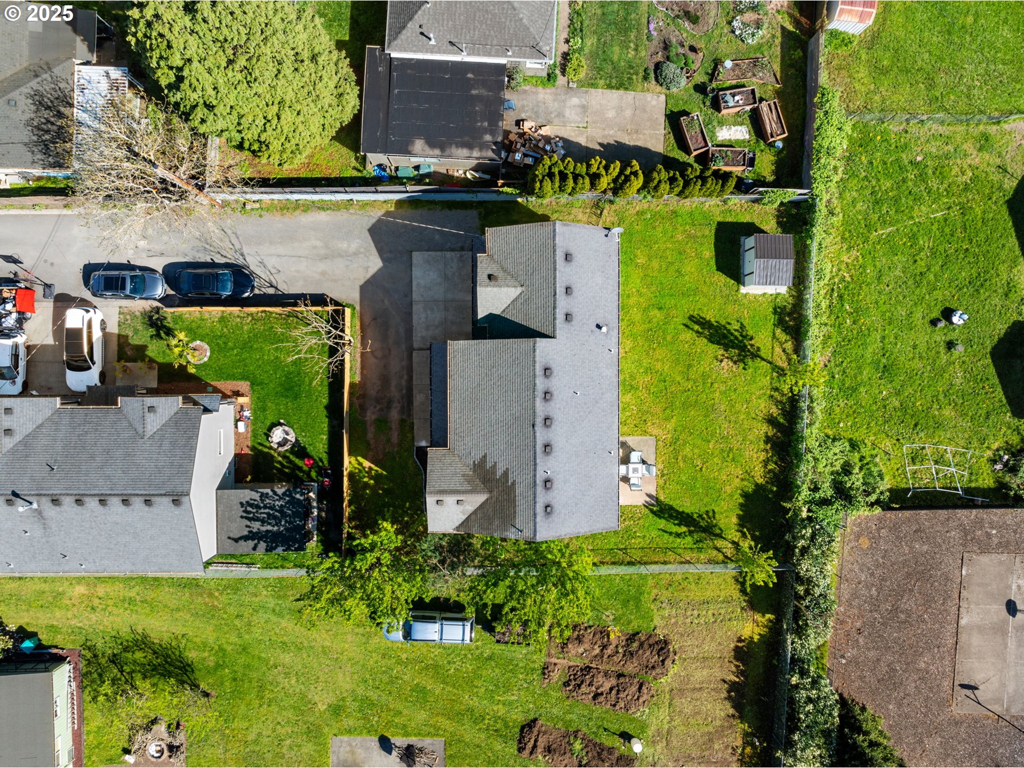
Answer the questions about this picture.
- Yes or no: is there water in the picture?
No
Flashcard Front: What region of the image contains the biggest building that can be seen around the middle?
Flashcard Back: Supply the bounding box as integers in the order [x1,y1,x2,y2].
[425,221,622,541]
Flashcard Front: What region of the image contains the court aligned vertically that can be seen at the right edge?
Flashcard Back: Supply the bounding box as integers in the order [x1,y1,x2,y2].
[953,552,1024,715]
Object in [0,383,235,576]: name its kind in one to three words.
house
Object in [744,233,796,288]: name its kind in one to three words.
shed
